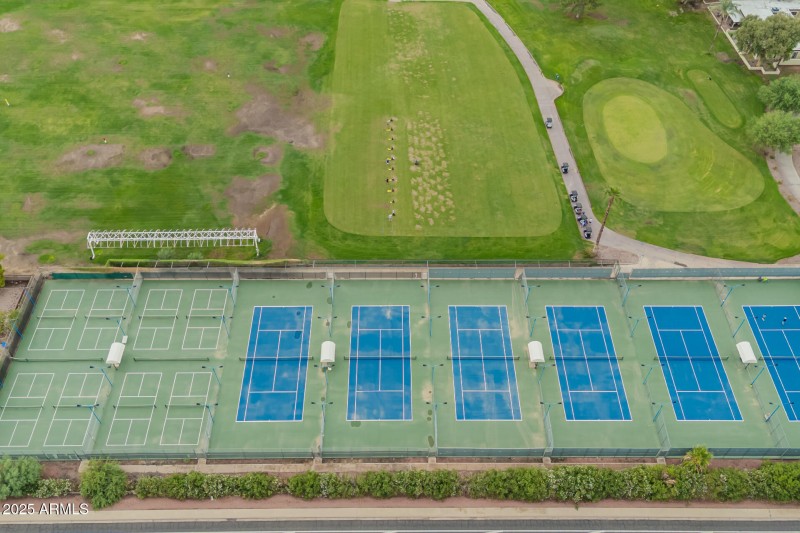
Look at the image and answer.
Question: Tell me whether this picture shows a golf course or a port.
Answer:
golf course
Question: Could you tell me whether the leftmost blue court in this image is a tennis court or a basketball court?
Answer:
tennis court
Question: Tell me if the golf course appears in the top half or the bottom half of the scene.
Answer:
top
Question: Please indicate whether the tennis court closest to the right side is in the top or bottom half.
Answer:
bottom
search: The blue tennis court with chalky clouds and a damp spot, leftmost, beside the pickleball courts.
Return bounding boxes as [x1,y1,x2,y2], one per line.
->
[236,306,314,420]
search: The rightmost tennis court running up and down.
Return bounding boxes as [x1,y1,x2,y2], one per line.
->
[743,306,800,420]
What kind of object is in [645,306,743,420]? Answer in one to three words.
tennis court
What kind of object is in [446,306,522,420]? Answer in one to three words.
tennis court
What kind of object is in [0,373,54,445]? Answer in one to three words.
sports court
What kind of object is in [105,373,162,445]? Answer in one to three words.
sports court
